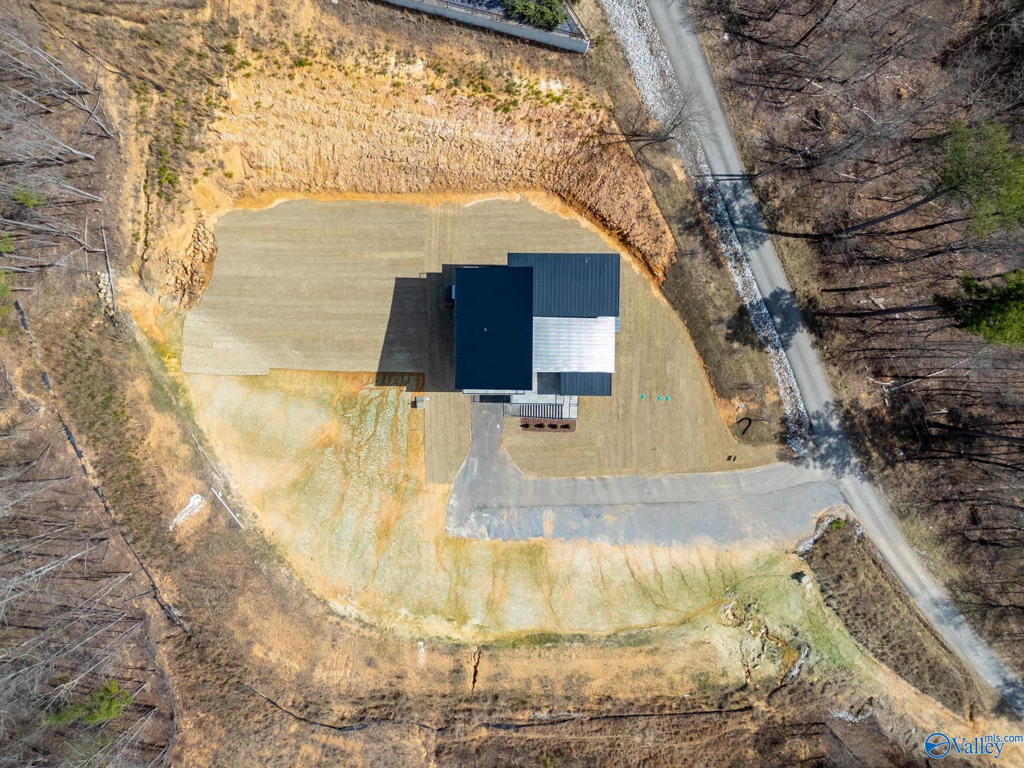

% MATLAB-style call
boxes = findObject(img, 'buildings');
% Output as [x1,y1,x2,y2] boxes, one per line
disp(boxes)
[453,252,622,419]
